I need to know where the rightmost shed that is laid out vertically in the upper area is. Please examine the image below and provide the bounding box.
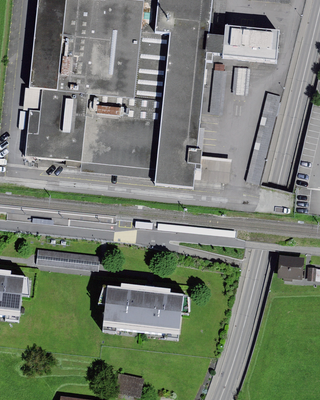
[247,93,281,186]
